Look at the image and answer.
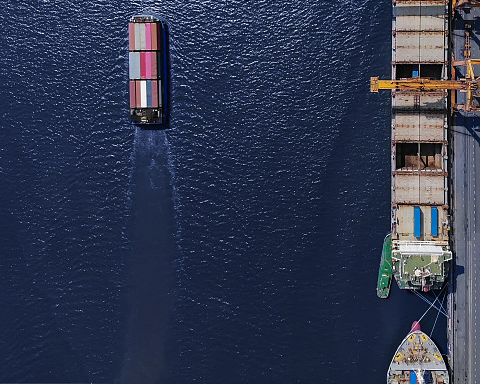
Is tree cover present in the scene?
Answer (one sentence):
No, the picture contains no tree cover.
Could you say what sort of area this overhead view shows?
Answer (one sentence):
This image shows a port.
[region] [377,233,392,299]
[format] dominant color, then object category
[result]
green boat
